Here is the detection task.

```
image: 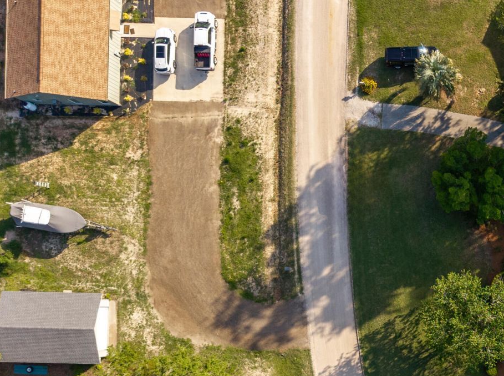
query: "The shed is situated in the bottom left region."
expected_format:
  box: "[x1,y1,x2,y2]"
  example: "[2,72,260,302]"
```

[0,290,110,364]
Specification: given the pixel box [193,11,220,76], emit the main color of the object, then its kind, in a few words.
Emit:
white truck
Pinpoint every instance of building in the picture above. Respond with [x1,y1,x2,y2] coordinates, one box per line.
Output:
[0,290,110,364]
[5,0,130,106]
